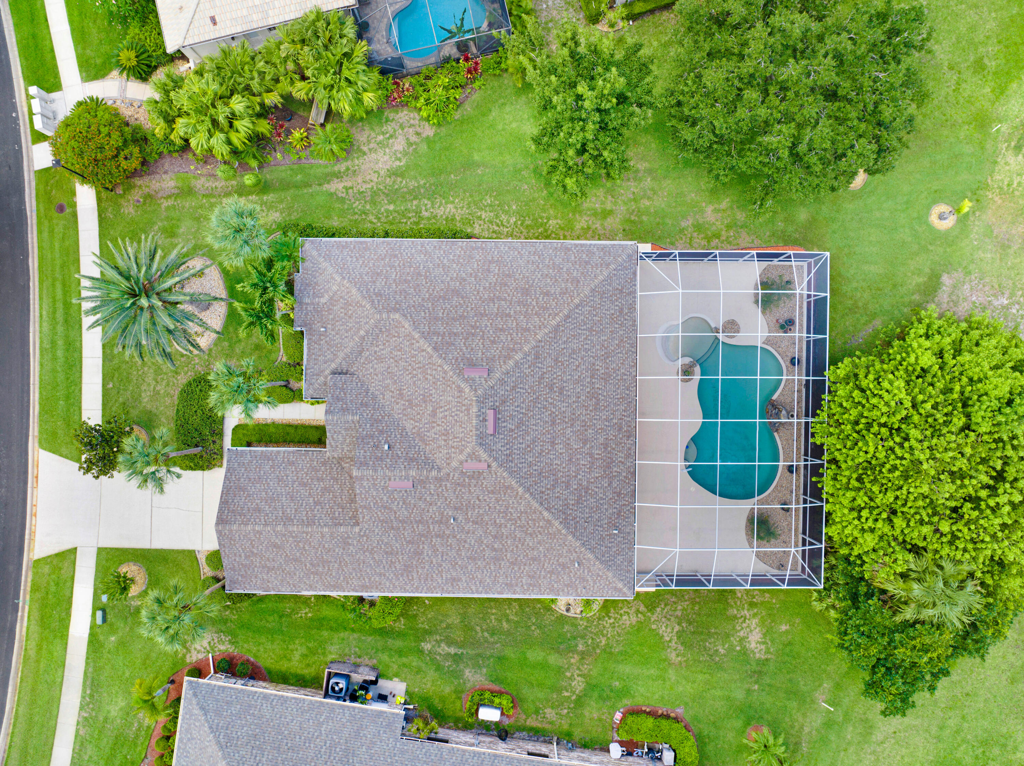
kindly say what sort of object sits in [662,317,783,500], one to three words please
swimming pool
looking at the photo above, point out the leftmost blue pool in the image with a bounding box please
[390,0,486,57]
